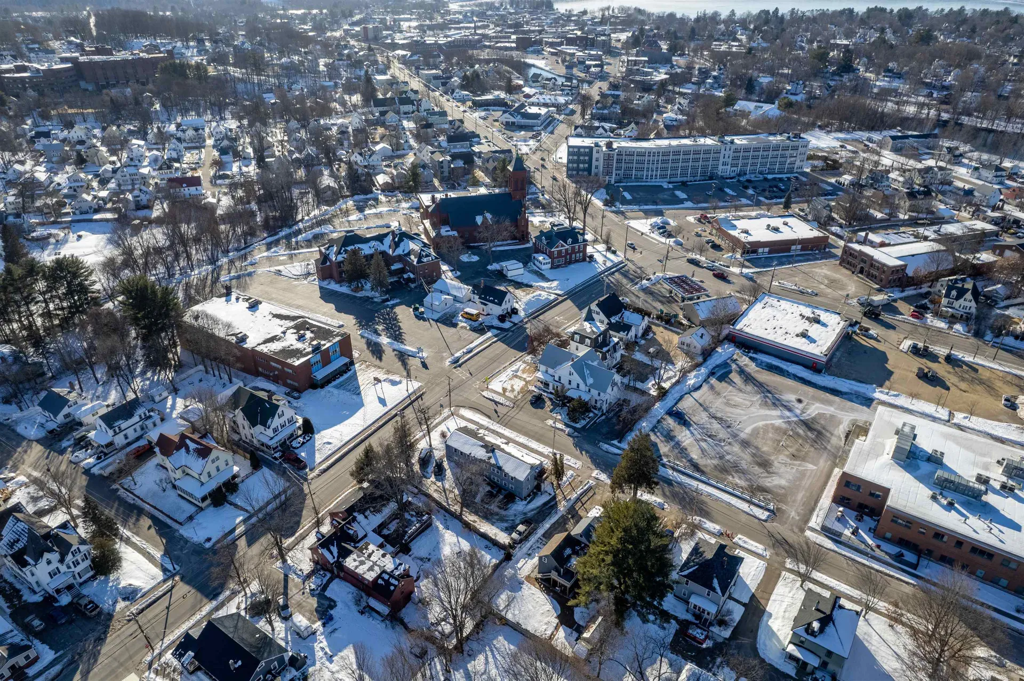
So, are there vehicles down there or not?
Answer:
Yes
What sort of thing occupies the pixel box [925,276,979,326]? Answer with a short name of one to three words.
house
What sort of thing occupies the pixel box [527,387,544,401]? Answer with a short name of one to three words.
car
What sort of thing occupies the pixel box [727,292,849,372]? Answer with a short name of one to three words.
building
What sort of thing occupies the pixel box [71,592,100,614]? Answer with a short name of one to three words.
truck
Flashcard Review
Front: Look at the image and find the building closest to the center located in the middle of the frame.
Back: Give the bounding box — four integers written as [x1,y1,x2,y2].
[469,279,516,316]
